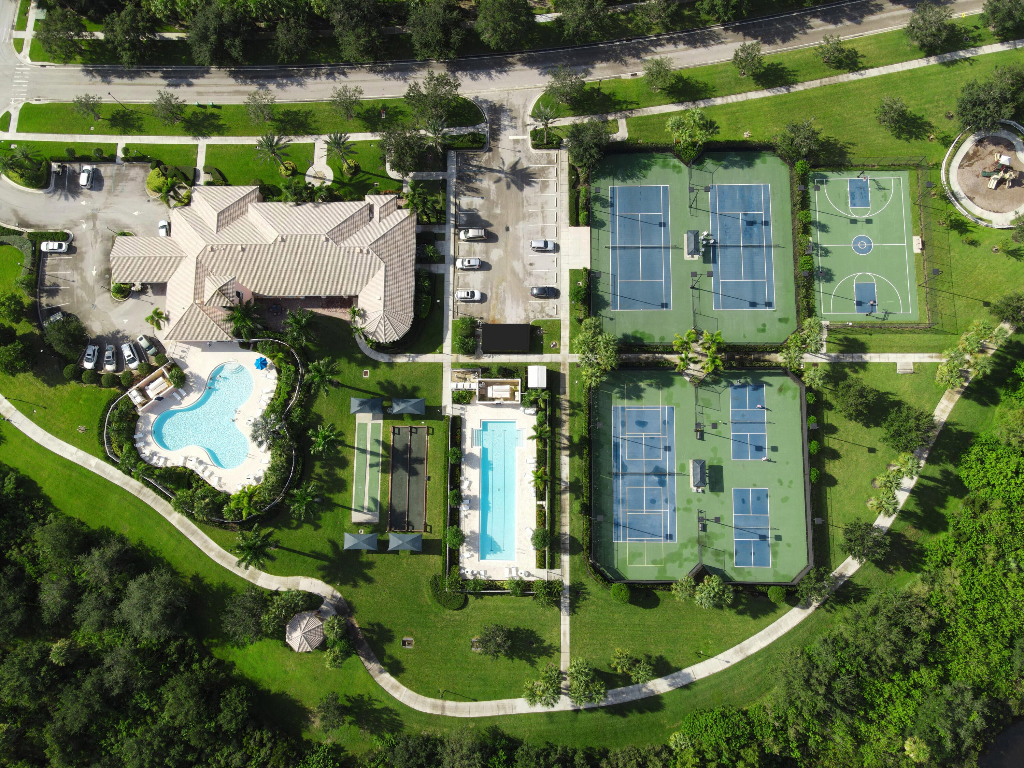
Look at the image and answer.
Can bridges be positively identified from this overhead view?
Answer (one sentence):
No, there's no bridge here.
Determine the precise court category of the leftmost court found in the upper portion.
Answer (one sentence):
What you see as the leftmost court found in the upper portion is a tennis court.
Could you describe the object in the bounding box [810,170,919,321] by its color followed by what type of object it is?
green basketball court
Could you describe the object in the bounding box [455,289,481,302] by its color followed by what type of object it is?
white vehicle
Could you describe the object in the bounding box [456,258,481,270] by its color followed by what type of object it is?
white vehicle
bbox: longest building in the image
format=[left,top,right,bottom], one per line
[110,186,417,342]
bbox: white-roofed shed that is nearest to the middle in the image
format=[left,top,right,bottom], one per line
[528,365,546,389]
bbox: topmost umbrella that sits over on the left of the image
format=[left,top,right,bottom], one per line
[254,357,268,371]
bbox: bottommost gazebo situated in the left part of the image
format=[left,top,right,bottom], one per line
[286,612,327,653]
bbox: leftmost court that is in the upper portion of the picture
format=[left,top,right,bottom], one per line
[591,153,696,342]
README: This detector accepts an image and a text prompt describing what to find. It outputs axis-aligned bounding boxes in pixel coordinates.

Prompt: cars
[456,258,481,270]
[136,332,159,357]
[158,217,171,236]
[44,308,69,326]
[460,229,487,242]
[80,167,95,188]
[43,242,68,253]
[531,287,557,299]
[104,345,119,371]
[455,289,481,302]
[84,345,101,370]
[530,240,555,252]
[122,342,140,370]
